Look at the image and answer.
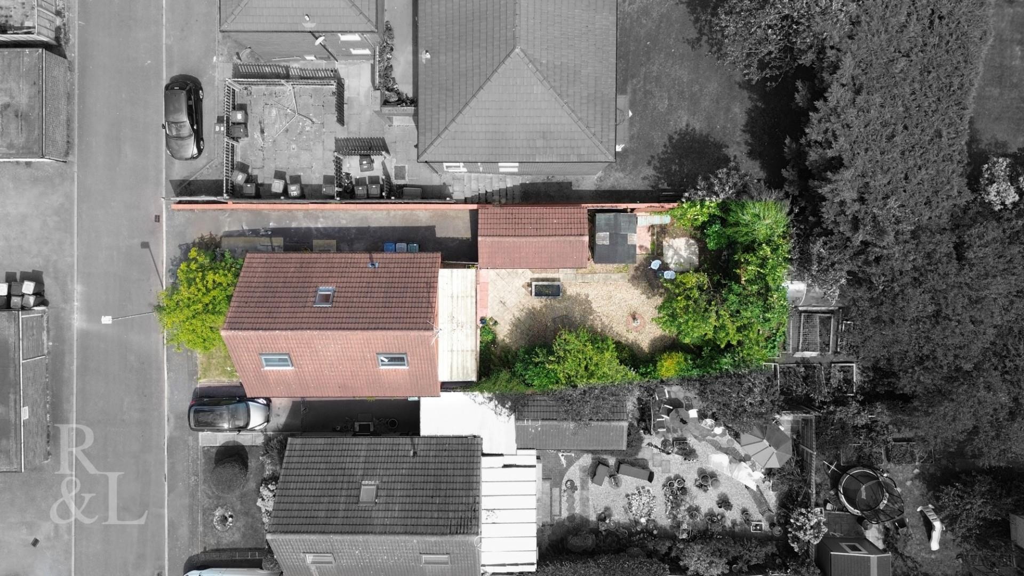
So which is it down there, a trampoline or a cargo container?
trampoline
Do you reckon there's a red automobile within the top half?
No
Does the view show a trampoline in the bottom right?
Yes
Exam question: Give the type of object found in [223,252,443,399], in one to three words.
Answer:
house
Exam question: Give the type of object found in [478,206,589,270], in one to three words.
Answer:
building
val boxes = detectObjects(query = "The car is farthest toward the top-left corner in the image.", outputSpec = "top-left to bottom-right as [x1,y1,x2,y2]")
[160,79,207,162]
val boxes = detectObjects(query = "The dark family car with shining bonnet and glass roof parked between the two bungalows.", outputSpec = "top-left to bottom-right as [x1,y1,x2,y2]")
[185,394,275,437]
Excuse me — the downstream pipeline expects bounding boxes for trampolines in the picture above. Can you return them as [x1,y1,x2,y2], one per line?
[829,462,905,528]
